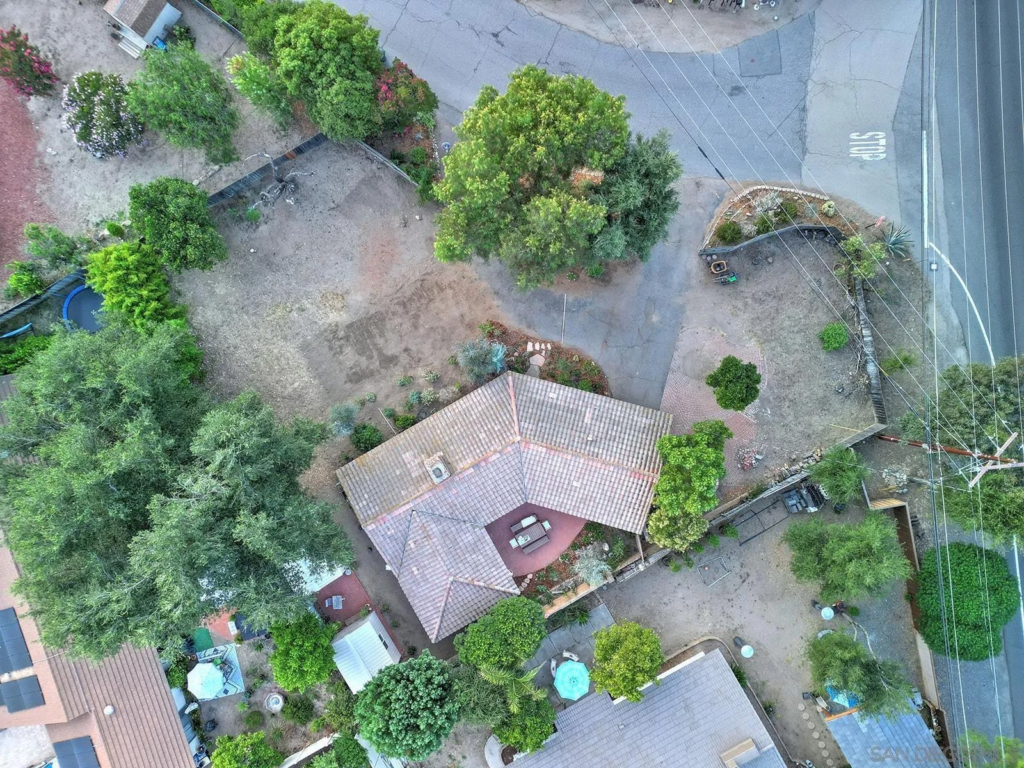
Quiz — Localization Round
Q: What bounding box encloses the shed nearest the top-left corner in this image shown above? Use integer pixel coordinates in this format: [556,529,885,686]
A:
[103,0,189,59]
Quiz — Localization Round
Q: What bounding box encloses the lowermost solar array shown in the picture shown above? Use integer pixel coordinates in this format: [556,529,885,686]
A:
[54,735,100,768]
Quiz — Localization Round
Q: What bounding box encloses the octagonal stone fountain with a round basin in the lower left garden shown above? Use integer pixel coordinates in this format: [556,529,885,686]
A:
[263,693,284,714]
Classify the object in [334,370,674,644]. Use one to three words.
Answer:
house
